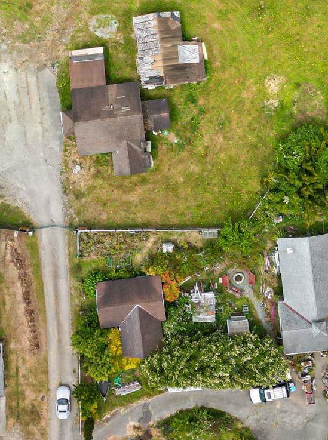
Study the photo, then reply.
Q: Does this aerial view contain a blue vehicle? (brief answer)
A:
No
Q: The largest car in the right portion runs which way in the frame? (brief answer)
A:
from side to side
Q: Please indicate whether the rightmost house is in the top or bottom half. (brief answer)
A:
bottom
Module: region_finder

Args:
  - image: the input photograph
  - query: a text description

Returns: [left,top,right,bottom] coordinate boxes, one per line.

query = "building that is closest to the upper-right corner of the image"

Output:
[133,11,205,88]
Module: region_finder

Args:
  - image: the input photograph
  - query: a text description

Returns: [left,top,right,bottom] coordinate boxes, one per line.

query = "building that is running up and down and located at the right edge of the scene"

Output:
[278,232,328,355]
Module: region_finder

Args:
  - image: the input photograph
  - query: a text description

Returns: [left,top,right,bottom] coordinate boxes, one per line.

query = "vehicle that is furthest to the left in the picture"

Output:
[55,385,72,420]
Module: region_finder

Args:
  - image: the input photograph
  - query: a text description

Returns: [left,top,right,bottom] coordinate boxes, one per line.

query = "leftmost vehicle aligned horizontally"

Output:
[251,384,290,404]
